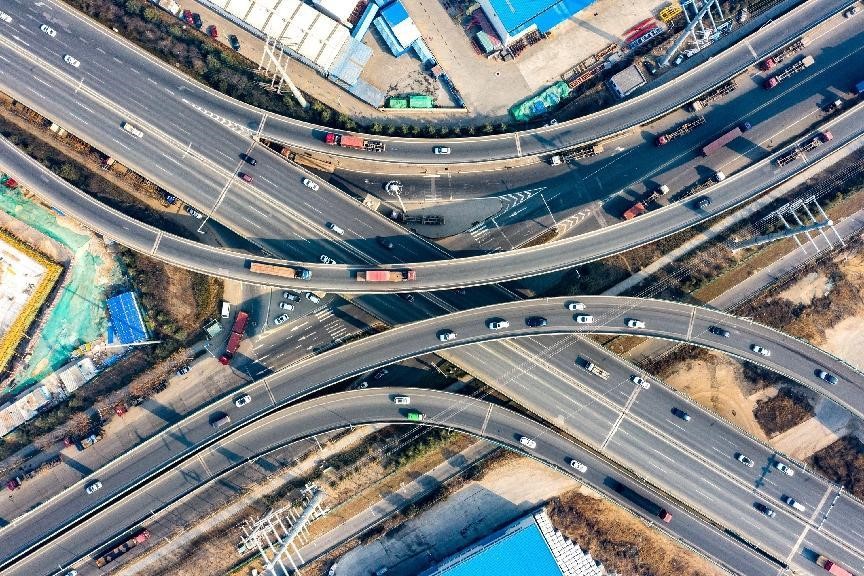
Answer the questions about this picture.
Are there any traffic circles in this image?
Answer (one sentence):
No, the frame has no traffic circle in it.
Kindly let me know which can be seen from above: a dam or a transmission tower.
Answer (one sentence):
Of the two, only a transmission tower appears.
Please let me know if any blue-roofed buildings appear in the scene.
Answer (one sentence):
Yes, a blue-roofed building can be made out from above.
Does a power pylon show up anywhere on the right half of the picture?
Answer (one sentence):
Yes, I can see a power pylon on the right half of the picture.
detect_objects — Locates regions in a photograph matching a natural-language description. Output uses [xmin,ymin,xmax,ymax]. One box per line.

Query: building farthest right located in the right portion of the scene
[607,64,645,101]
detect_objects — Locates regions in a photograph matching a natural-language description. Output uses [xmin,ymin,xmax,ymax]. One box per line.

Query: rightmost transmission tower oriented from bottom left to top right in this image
[660,0,742,67]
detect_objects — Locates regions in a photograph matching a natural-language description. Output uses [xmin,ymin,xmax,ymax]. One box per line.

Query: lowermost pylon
[256,487,328,576]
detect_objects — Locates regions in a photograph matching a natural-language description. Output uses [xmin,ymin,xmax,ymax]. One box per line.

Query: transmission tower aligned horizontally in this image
[727,197,845,256]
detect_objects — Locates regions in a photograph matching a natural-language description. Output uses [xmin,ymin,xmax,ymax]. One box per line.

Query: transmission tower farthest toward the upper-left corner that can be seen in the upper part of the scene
[263,31,307,109]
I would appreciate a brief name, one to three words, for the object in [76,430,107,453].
truck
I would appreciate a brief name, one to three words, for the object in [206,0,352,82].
shed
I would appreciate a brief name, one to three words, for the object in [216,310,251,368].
truck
